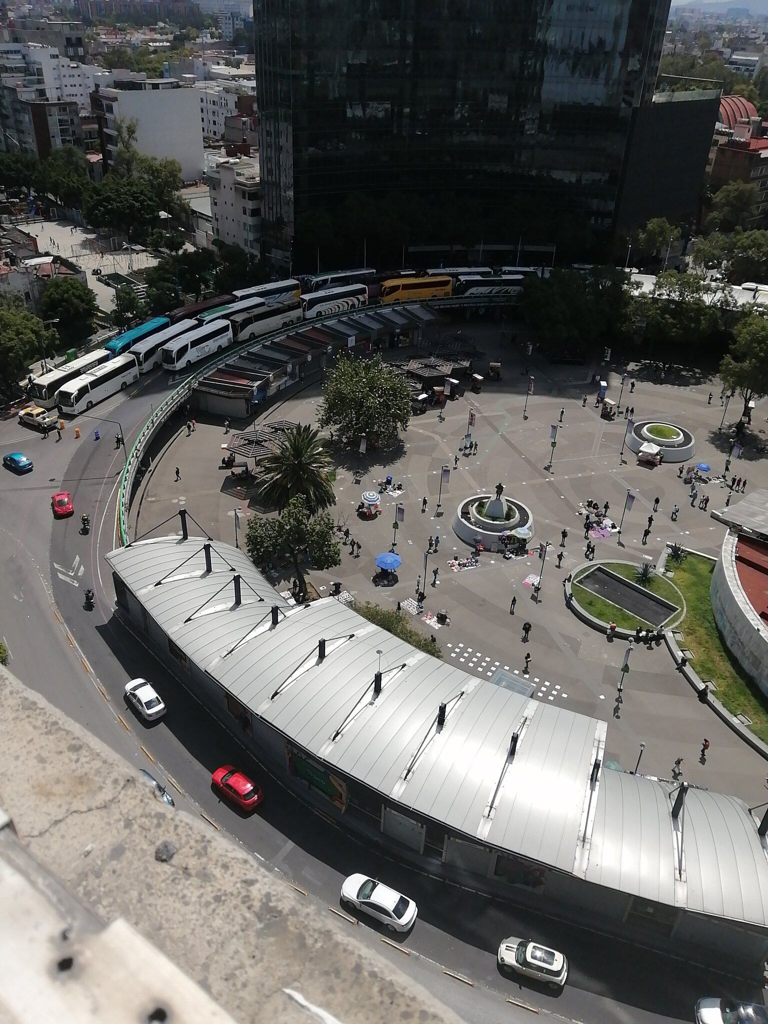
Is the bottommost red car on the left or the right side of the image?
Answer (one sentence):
The bottommost red car is on the left side of the image.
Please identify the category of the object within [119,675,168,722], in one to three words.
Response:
car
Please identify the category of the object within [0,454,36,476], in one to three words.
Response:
car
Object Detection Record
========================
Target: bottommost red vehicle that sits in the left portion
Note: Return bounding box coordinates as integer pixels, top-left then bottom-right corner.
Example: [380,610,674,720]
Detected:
[206,767,266,816]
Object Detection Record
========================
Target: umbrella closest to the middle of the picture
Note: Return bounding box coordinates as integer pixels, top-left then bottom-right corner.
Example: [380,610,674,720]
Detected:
[361,494,382,506]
